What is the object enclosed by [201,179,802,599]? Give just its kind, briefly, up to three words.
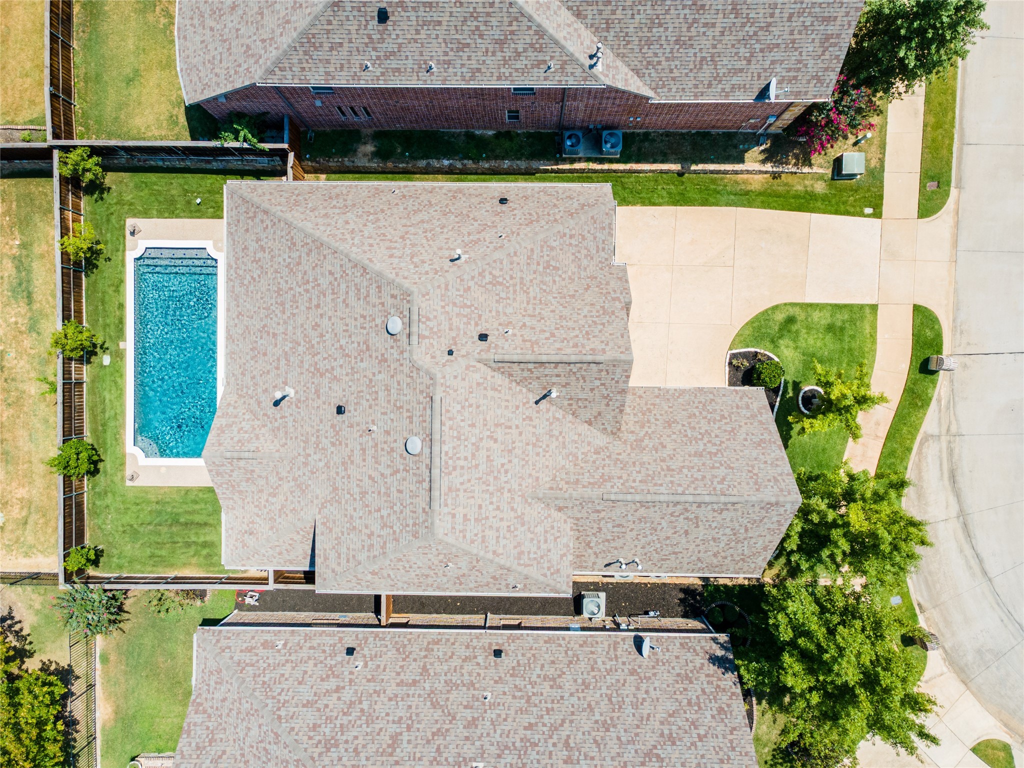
house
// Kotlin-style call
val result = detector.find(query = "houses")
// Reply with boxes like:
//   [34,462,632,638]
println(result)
[201,179,802,599]
[169,607,761,768]
[179,0,866,141]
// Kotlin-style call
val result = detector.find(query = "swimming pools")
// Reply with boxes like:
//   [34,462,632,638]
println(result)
[124,240,223,466]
